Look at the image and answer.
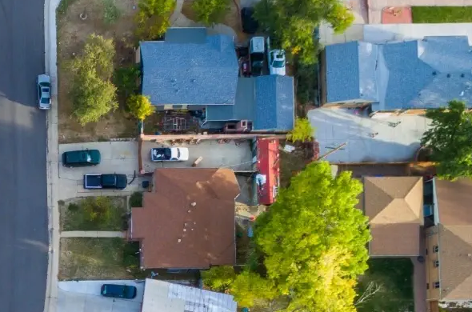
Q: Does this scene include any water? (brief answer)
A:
No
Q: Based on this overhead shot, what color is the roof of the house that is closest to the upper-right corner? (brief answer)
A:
blue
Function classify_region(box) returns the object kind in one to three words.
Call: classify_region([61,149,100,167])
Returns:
car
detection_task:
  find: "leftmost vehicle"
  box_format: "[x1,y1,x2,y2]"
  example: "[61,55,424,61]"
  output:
[36,74,53,110]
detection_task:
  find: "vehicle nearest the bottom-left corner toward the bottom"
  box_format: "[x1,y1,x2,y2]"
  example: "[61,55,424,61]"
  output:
[100,283,137,299]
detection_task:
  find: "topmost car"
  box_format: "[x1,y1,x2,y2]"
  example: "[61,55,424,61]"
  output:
[240,5,259,36]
